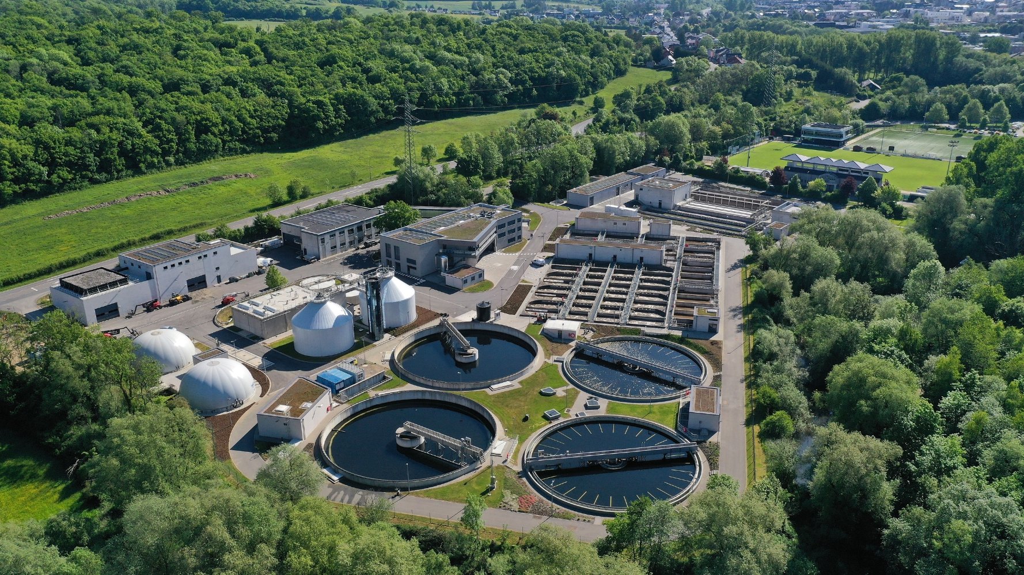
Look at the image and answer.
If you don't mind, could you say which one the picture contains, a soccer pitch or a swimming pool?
soccer pitch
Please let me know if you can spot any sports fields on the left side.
No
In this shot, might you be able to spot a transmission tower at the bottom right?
No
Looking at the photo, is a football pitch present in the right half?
Yes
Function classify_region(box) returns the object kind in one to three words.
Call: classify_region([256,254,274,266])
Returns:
vehicle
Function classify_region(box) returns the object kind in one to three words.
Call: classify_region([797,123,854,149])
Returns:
building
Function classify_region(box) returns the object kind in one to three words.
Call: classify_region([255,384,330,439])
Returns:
house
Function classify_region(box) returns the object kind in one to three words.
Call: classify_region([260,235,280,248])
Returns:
vehicle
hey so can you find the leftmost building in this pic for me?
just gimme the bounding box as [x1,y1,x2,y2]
[53,238,258,325]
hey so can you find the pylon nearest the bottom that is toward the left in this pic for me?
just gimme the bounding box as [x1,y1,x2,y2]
[388,94,421,194]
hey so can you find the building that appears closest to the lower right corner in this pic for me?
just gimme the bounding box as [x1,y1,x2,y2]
[675,384,722,438]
